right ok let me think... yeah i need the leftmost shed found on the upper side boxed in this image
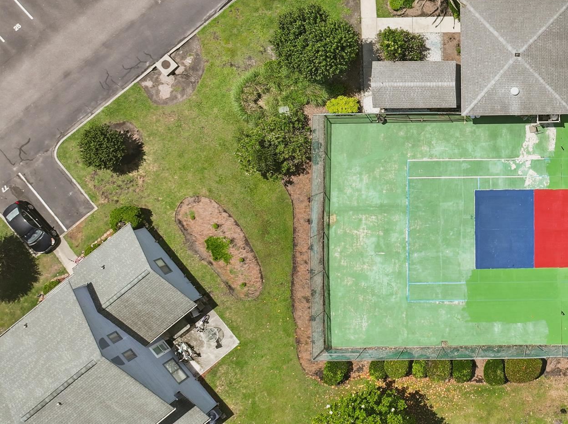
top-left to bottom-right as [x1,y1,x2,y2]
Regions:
[370,61,458,108]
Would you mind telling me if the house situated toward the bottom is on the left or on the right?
left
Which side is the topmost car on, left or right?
left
